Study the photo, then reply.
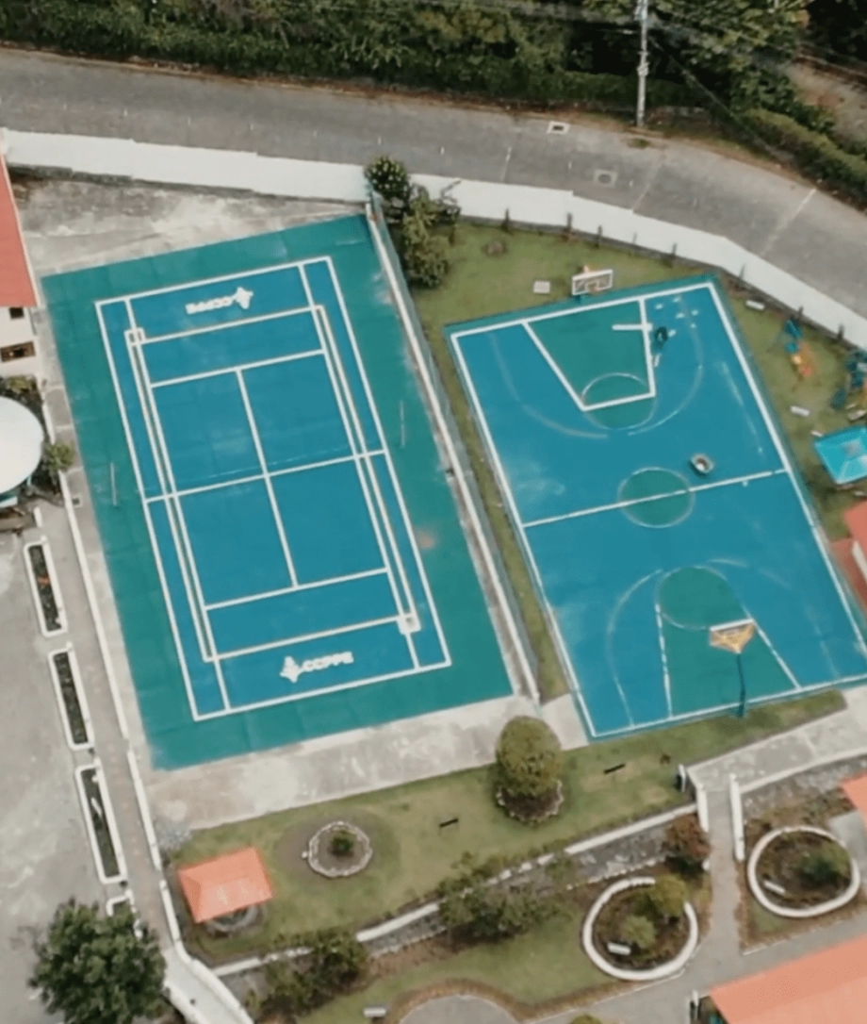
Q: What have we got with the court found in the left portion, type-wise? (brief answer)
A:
tennis court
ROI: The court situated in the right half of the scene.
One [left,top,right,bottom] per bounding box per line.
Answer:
[444,276,867,744]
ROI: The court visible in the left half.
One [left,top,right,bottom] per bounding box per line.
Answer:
[43,213,512,770]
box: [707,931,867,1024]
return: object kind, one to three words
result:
building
